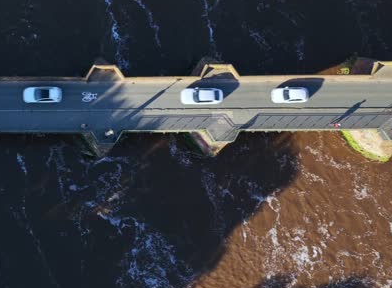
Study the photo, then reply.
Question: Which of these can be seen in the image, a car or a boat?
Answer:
car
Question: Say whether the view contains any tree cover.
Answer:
No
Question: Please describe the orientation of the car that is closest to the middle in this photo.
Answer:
from side to side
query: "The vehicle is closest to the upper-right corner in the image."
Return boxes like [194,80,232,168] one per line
[269,85,310,104]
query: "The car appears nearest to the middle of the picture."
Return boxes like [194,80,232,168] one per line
[178,86,223,106]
